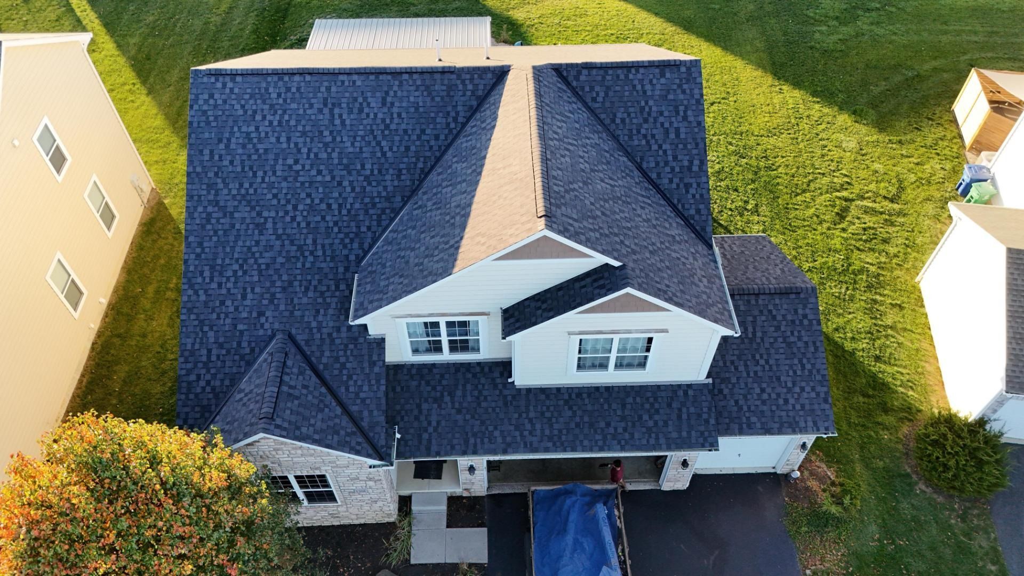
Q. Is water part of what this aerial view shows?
No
